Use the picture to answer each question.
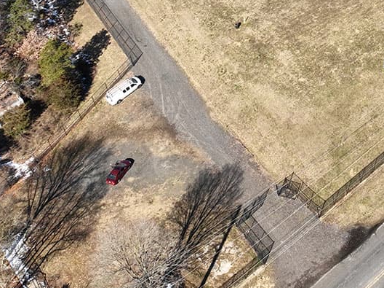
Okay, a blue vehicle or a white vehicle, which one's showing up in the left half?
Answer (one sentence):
Visible in the left half is a white vehicle.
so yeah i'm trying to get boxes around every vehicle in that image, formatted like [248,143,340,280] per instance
[100,75,145,112]
[103,156,137,191]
